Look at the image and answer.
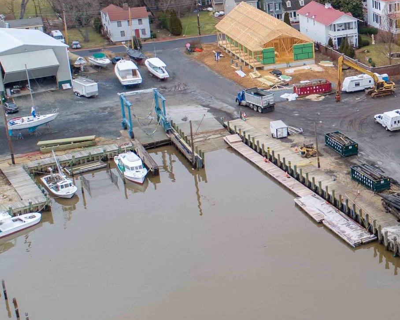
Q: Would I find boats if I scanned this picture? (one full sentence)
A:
Yes, a boat can be made out from above.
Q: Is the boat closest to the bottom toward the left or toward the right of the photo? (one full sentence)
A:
The boat closest to the bottom sits on the left side.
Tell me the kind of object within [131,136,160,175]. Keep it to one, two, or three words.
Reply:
pier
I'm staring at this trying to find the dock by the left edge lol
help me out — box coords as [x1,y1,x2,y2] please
[0,143,115,215]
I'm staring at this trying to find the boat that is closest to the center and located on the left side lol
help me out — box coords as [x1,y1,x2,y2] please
[109,140,143,180]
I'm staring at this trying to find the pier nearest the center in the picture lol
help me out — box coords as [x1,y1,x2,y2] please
[166,119,206,171]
